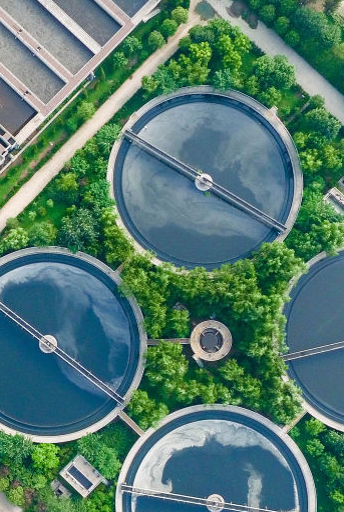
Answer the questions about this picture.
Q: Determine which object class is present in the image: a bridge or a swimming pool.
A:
bridge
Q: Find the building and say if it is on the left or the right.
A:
left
